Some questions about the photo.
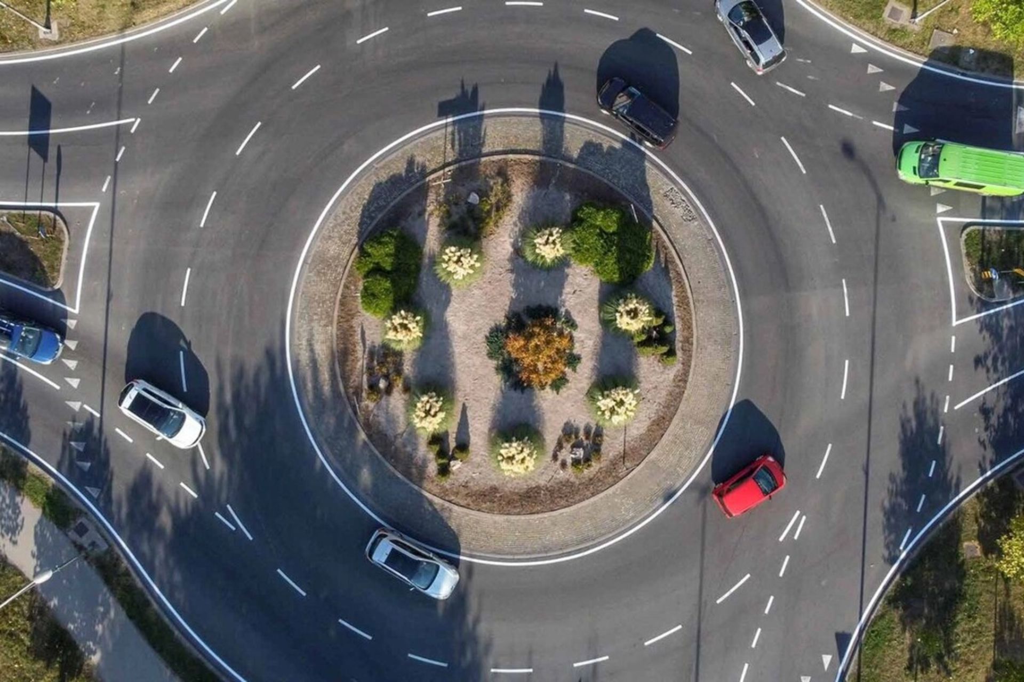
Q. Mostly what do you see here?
paved ground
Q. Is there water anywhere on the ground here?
No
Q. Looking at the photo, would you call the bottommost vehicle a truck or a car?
car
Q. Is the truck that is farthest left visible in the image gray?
No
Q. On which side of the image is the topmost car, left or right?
right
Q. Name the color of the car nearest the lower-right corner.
red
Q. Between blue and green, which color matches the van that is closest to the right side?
green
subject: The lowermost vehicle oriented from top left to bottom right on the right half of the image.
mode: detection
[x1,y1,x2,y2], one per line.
[598,82,680,150]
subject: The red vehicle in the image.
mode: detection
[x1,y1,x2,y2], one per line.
[712,456,784,517]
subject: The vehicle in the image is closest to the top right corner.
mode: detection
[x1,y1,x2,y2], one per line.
[899,137,1024,194]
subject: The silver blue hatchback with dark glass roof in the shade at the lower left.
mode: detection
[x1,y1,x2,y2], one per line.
[368,527,456,596]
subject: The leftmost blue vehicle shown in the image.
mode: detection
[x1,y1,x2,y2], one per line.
[0,309,65,359]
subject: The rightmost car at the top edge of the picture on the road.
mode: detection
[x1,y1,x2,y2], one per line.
[712,0,784,72]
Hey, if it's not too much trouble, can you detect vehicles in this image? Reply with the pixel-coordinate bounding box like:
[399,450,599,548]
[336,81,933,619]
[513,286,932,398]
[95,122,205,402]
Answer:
[712,0,784,72]
[368,527,456,596]
[598,82,680,150]
[0,309,65,359]
[117,379,207,446]
[899,137,1024,194]
[712,456,784,517]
